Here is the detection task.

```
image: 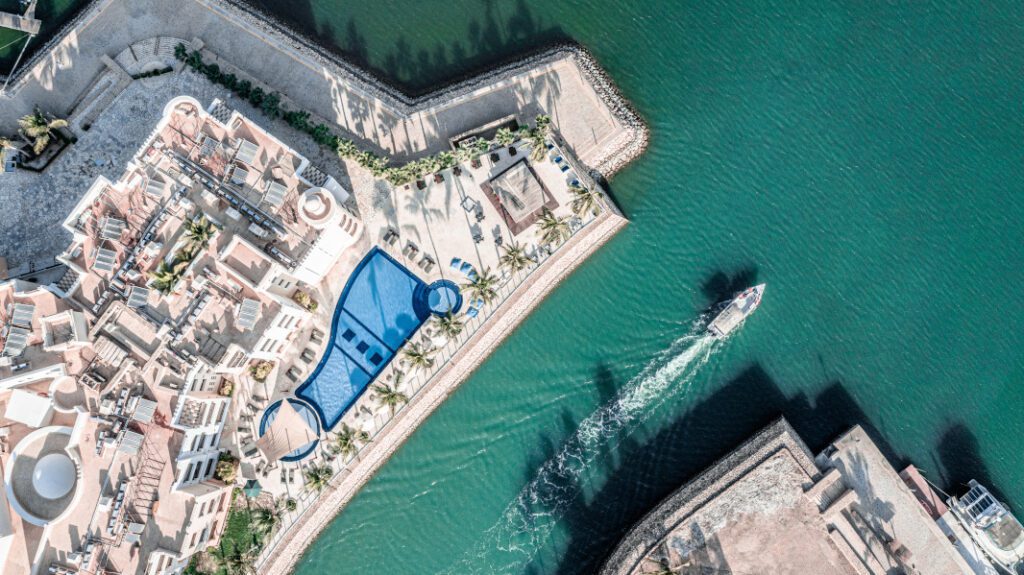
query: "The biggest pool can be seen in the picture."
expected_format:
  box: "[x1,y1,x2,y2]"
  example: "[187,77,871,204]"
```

[296,247,431,433]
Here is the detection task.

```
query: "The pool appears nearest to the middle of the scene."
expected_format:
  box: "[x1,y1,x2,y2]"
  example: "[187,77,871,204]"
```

[427,280,462,315]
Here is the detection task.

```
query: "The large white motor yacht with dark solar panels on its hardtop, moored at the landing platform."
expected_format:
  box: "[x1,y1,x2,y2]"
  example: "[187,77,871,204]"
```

[946,475,1024,572]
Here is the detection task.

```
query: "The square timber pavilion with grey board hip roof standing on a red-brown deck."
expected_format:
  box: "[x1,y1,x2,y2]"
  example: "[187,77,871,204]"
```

[482,157,559,236]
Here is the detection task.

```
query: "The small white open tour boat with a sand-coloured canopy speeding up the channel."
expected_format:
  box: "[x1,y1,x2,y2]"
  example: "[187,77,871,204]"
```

[708,283,766,339]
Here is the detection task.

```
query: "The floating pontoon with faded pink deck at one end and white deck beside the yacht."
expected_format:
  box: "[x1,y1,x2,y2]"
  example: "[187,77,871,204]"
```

[897,464,995,575]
